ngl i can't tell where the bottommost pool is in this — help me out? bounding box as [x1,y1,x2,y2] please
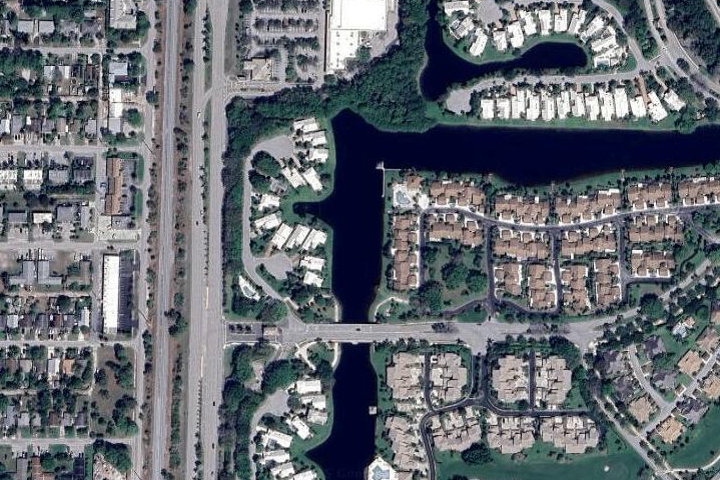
[368,457,398,480]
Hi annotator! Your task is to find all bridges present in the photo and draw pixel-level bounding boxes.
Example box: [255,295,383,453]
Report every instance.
[336,322,375,343]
